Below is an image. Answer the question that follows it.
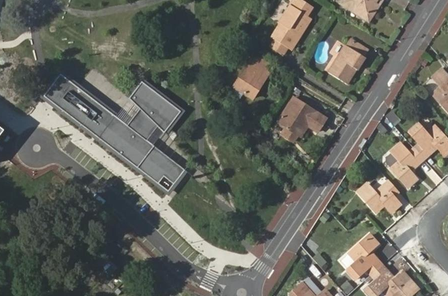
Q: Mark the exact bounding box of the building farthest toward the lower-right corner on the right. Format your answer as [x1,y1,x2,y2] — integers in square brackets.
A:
[386,269,417,296]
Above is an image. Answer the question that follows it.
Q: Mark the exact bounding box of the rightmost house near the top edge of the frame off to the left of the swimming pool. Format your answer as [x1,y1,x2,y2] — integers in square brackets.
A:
[271,0,314,56]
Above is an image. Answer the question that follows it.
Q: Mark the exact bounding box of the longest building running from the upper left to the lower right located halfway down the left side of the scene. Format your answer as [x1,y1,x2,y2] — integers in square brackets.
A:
[44,73,184,192]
